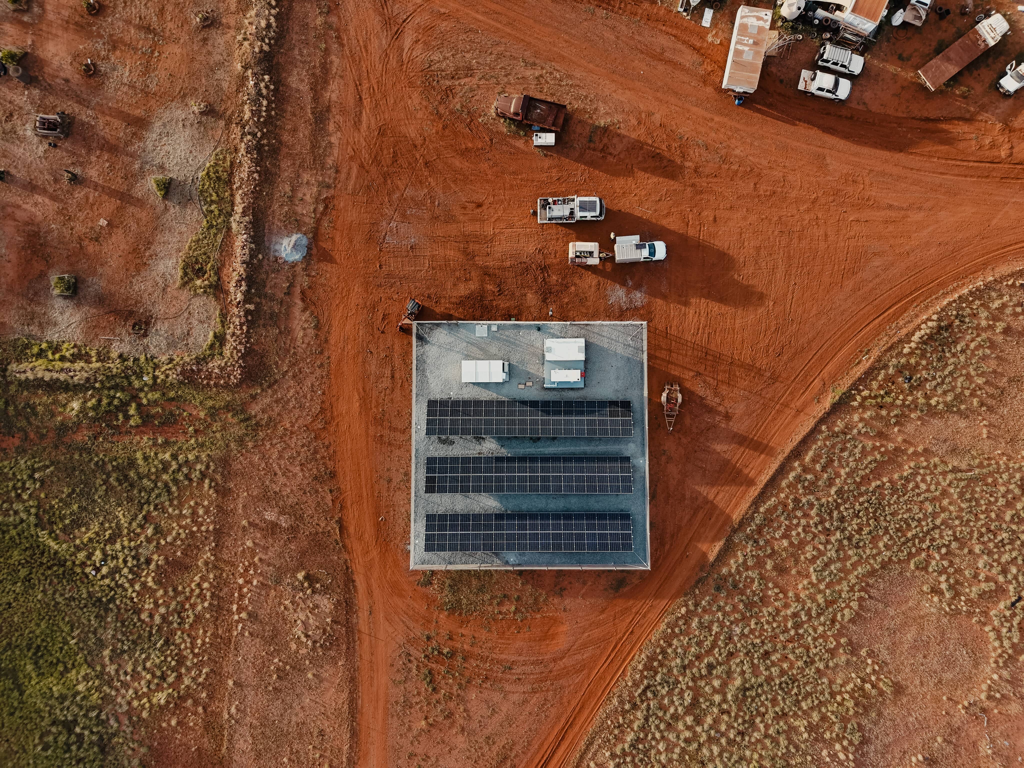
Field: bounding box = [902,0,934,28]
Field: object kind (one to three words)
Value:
truck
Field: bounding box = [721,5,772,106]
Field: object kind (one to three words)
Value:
camper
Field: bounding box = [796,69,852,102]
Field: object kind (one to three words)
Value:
truck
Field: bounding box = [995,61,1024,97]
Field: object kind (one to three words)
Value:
car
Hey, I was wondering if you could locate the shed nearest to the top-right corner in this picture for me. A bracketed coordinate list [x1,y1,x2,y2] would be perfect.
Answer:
[840,0,889,36]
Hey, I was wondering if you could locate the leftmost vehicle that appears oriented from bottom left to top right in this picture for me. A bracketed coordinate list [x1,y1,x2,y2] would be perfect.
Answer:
[395,296,426,336]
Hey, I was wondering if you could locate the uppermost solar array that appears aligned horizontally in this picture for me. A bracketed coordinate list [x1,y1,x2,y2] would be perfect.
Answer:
[424,400,635,436]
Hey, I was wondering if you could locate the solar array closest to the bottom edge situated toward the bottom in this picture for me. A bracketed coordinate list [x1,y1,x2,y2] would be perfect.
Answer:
[423,513,634,552]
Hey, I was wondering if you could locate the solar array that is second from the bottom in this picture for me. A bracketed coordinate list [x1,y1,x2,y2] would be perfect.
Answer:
[423,457,634,494]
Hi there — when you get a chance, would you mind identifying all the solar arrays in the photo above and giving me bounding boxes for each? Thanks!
[423,457,634,494]
[423,513,634,552]
[424,400,635,436]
